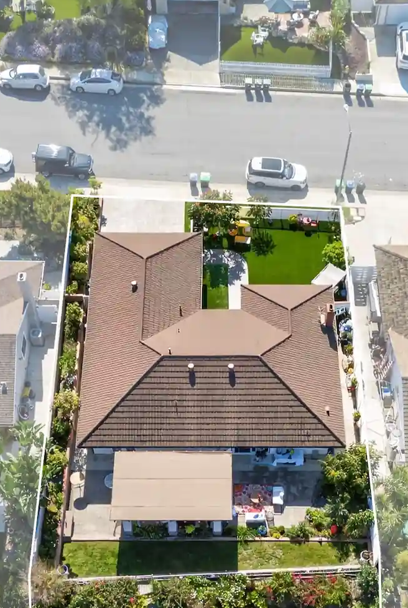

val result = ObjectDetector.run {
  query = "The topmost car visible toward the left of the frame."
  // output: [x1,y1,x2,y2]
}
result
[145,12,170,49]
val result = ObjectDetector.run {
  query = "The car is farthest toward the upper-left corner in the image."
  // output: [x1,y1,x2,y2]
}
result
[0,64,49,92]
